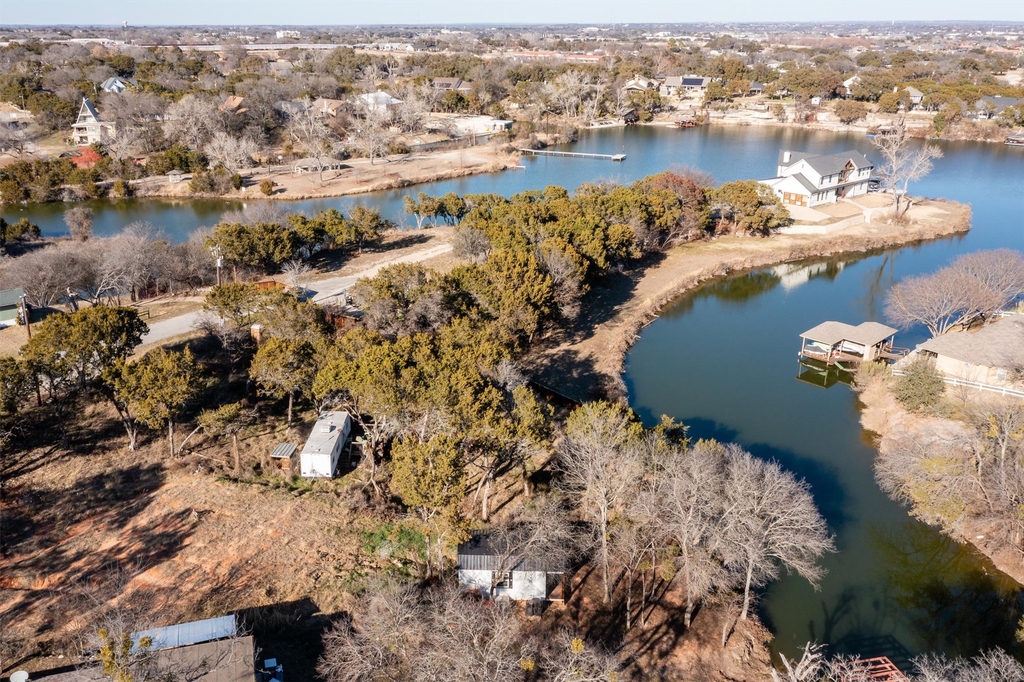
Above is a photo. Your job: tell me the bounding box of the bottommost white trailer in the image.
[301,411,351,488]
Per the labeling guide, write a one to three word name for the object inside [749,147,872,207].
house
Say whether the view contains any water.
Yes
